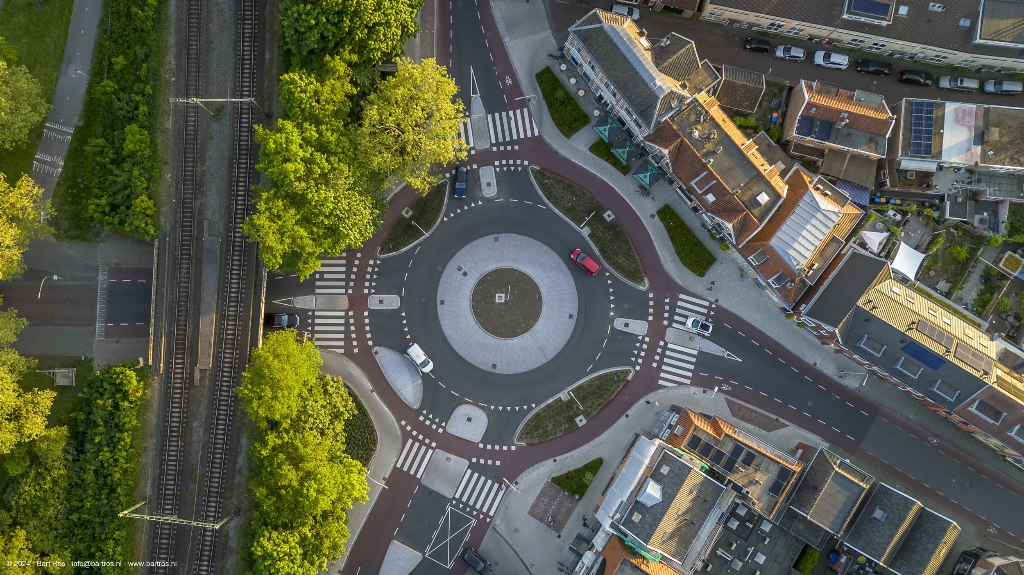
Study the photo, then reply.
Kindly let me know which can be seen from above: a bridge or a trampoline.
bridge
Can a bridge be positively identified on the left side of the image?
Yes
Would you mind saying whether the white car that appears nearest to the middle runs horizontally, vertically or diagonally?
diagonally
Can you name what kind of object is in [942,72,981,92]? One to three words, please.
car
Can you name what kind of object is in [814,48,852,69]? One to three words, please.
car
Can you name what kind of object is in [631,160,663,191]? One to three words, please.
umbrella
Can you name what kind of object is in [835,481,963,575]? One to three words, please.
house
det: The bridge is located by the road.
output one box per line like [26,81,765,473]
[148,220,270,386]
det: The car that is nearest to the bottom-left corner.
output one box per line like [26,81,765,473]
[265,313,298,329]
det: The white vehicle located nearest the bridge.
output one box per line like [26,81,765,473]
[405,342,433,374]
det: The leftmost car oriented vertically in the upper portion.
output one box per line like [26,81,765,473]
[452,164,468,198]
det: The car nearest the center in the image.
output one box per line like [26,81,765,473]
[571,247,601,275]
